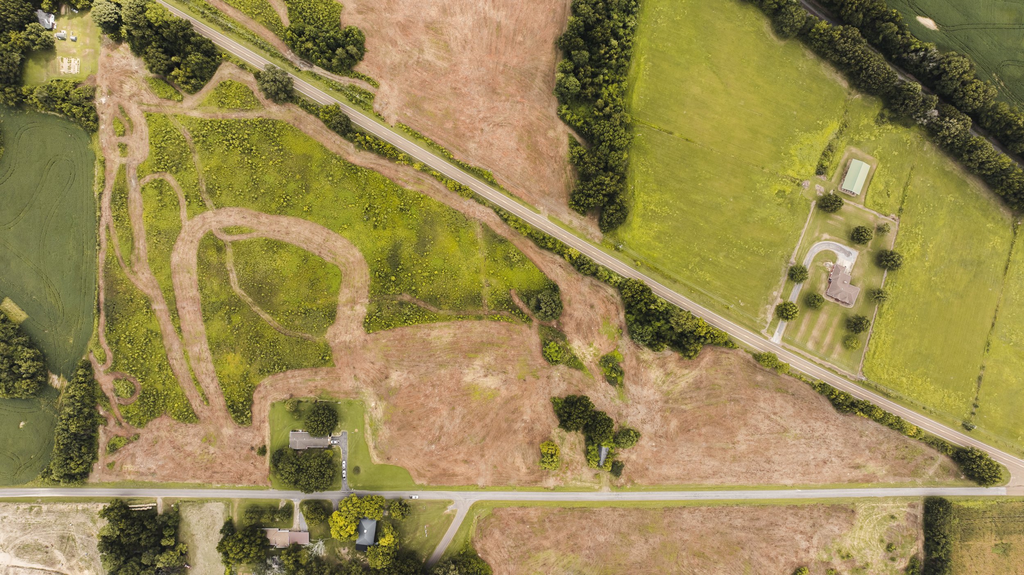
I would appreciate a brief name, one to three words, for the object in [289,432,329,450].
house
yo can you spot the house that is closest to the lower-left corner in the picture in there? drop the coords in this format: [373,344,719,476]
[260,528,290,549]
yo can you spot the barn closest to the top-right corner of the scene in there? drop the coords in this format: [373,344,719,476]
[841,159,870,195]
